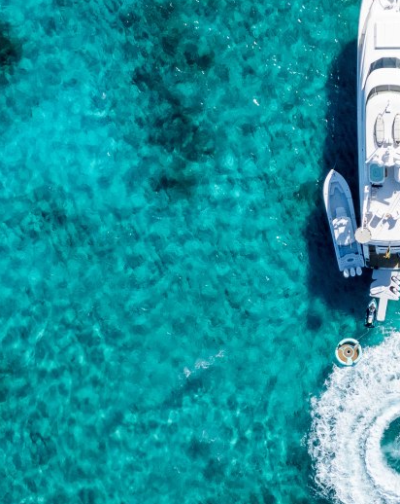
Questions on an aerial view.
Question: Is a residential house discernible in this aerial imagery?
No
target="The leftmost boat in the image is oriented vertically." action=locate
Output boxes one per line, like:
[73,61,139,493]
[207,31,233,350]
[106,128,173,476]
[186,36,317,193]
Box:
[327,170,364,279]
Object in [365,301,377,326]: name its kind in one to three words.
boat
